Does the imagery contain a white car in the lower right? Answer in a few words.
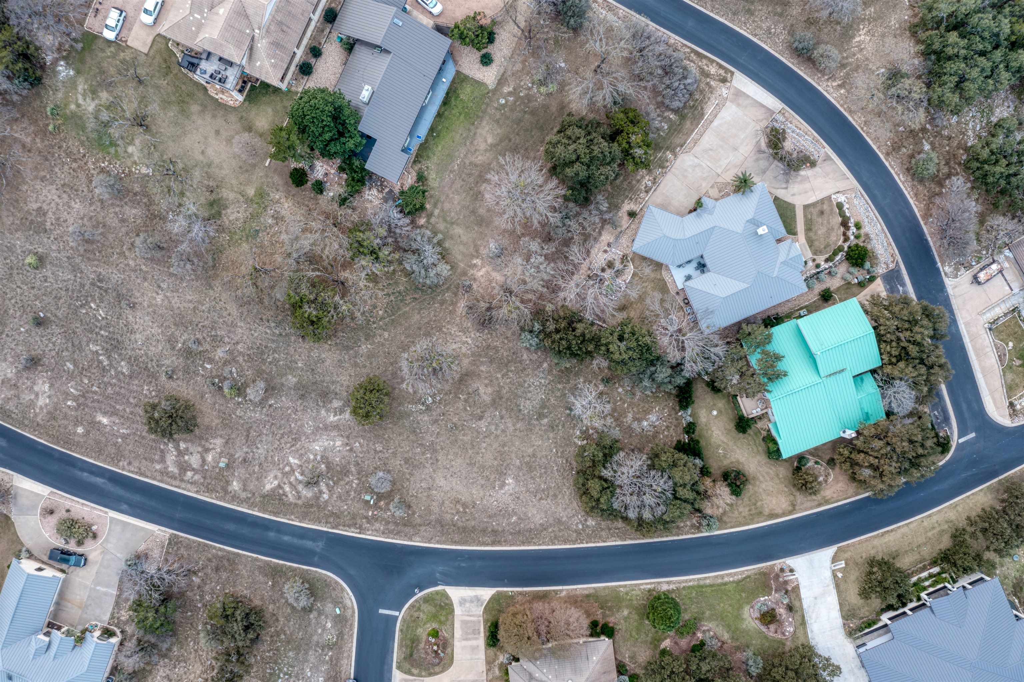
No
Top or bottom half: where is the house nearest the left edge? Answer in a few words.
bottom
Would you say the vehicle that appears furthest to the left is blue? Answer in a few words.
Yes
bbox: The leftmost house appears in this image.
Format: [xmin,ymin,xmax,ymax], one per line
[0,556,122,682]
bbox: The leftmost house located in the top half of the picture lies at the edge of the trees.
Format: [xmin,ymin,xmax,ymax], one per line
[160,0,332,95]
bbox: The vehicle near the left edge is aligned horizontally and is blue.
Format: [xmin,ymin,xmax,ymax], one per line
[48,547,90,567]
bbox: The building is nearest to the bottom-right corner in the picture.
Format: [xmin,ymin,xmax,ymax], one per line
[851,576,1024,682]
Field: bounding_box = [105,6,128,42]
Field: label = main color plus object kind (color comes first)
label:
white car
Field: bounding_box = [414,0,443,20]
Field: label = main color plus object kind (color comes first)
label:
white car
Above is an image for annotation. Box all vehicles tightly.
[142,0,164,28]
[48,547,90,567]
[414,0,443,20]
[105,6,128,42]
[344,671,358,682]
